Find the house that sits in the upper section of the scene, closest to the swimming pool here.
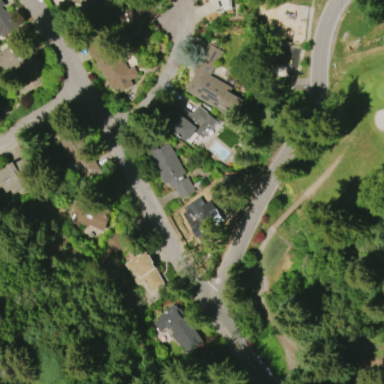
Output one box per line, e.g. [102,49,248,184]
[173,103,222,142]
